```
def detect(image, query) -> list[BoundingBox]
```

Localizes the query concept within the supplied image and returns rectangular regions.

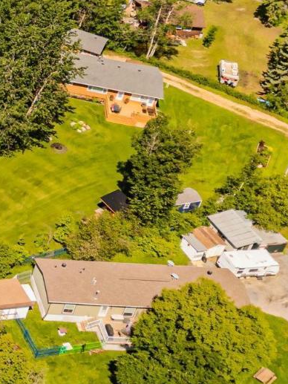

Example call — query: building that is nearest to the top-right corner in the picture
[156,2,206,46]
